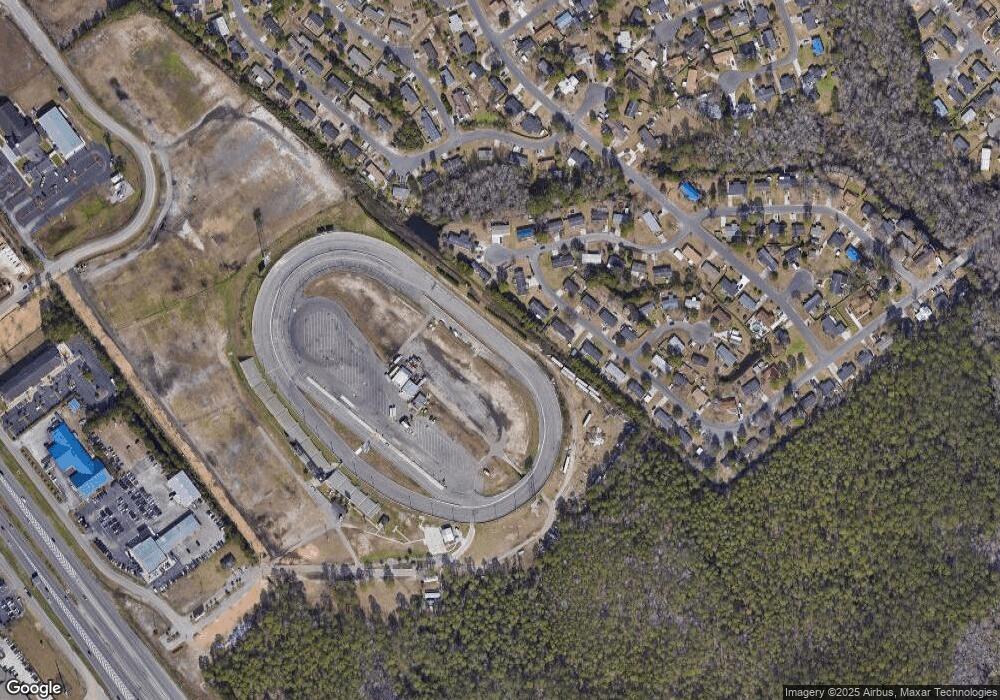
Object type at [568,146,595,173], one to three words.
house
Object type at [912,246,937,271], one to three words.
house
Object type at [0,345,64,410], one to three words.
building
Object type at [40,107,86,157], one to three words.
building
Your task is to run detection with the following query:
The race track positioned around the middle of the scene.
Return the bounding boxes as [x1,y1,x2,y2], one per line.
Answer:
[251,231,562,522]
